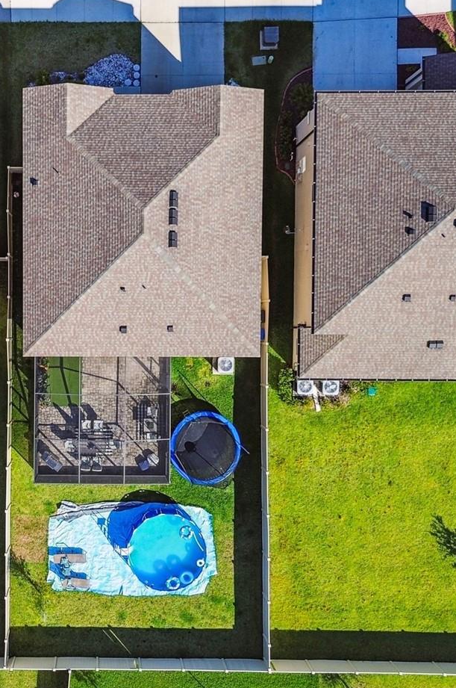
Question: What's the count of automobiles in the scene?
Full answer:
The picture shows no automobiles.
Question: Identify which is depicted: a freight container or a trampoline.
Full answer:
There is a trampoline in the scene.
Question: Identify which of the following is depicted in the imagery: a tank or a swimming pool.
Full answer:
Visible in the photo is a swimming pool.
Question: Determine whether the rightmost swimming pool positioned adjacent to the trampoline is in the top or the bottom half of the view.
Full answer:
Seen from above, the rightmost swimming pool positioned adjacent to the trampoline lies in the bottom half of the view.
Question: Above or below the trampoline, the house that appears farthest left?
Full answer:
It's above the trampoline that the house that appears farthest left shows up.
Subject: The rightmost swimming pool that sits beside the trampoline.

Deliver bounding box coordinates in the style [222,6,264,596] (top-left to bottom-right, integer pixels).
[126,507,208,592]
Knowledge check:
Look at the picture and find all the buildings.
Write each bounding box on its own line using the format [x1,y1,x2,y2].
[22,83,265,358]
[292,54,456,382]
